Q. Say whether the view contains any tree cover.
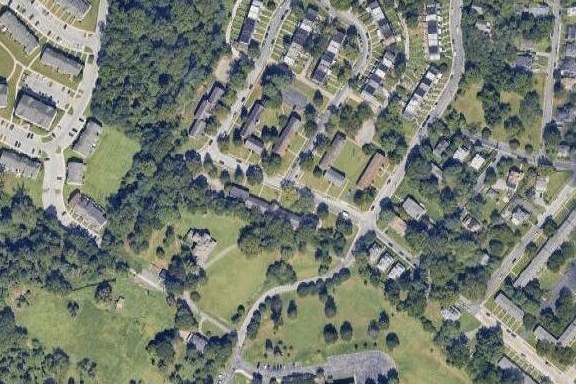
Yes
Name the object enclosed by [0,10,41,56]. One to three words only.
building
